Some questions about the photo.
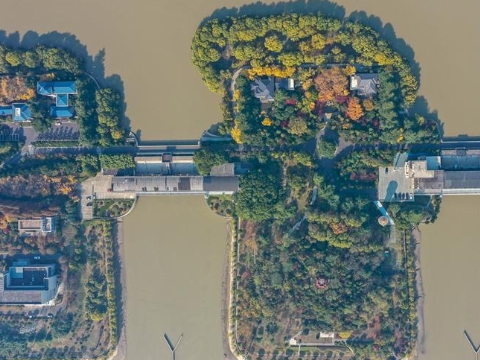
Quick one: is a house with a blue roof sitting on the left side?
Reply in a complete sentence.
Yes, a house with a blue roof shows up on the left side.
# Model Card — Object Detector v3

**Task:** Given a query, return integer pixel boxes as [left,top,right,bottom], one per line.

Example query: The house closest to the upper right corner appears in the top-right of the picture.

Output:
[350,73,377,96]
